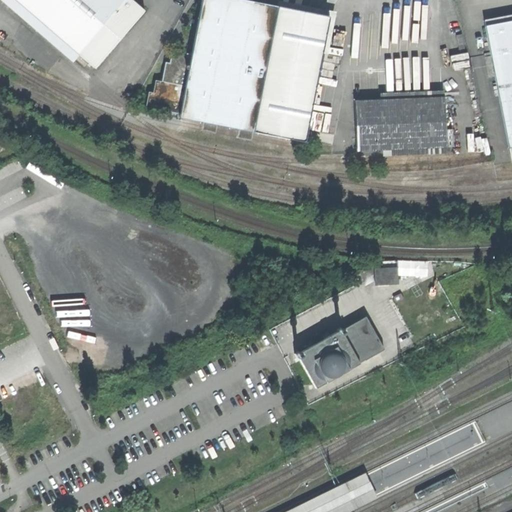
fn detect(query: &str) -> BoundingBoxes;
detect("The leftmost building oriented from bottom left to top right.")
[77,0,146,68]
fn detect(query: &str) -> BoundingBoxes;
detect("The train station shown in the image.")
[287,402,512,512]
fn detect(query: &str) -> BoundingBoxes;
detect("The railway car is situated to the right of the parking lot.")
[415,471,458,496]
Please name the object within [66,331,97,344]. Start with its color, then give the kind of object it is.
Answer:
white vehicle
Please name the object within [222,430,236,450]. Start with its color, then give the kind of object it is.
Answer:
white vehicle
